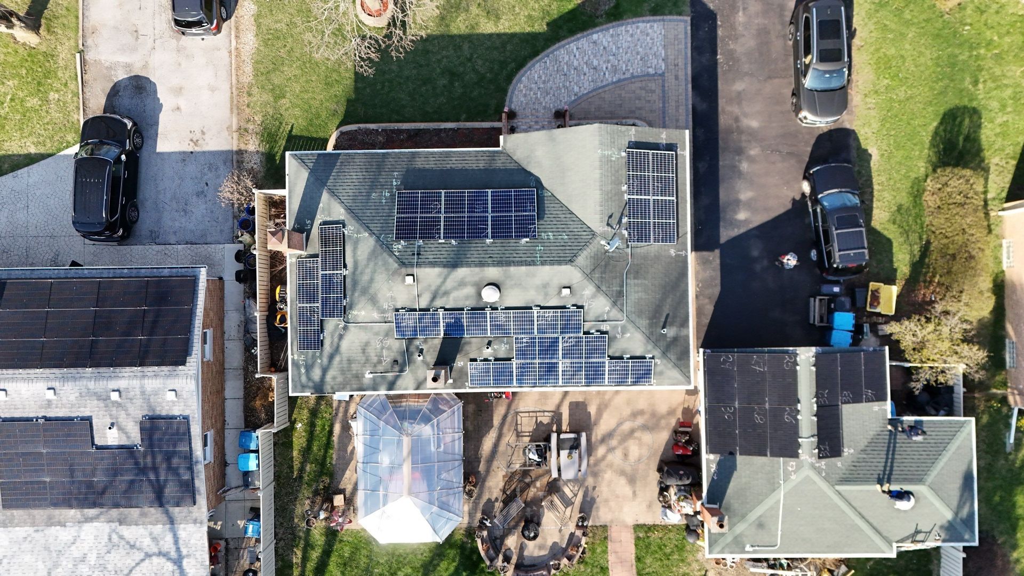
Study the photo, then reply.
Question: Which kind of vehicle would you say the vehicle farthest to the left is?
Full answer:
The vehicle farthest to the left can be classified as a car.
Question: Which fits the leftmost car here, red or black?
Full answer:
The color of the leftmost car is black.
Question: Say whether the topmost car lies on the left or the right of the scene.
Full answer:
The topmost car sits on the left side.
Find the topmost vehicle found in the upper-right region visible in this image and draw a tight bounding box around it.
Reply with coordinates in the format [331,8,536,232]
[788,0,853,128]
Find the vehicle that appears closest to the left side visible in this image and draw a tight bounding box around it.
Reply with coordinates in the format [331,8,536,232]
[68,115,144,245]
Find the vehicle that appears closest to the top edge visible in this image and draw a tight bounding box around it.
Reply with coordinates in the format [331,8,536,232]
[171,0,229,37]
